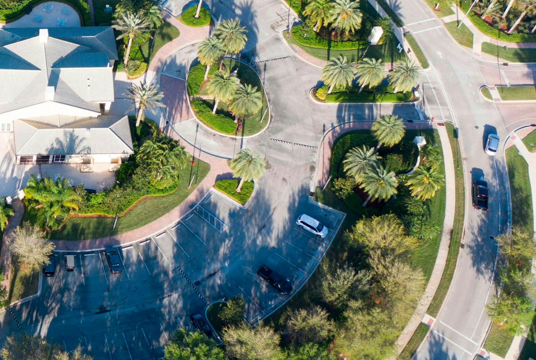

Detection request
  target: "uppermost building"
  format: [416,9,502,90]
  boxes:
[0,26,134,169]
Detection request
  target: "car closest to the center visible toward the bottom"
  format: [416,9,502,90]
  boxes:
[295,213,328,238]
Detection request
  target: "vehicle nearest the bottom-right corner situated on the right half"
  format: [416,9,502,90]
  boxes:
[473,181,489,211]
